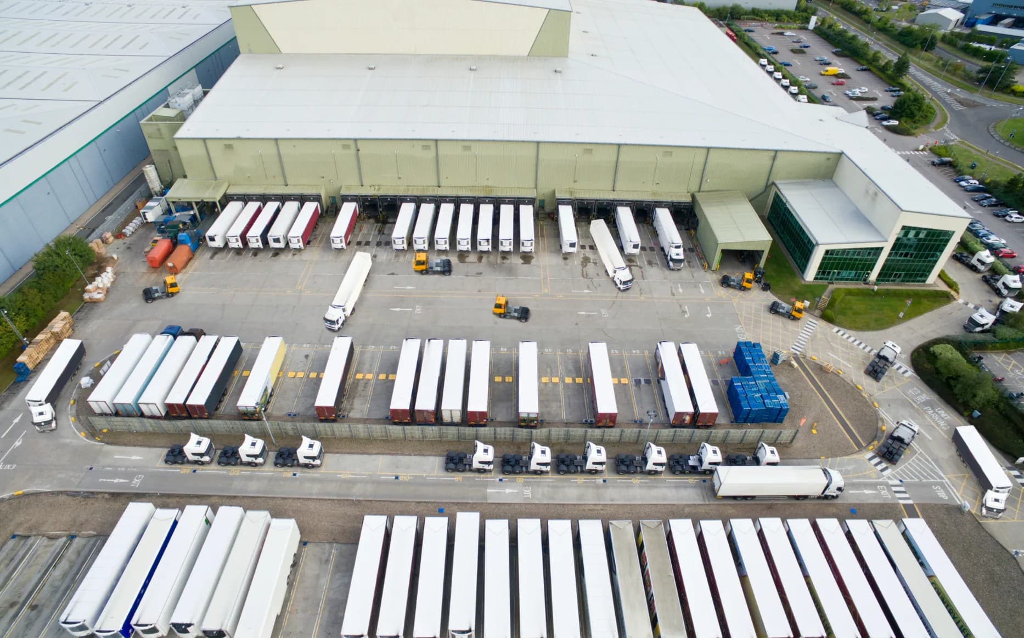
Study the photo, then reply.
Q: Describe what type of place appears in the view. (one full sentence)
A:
This image shows an industrial area.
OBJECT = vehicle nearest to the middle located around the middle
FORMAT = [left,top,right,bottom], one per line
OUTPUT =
[493,294,534,322]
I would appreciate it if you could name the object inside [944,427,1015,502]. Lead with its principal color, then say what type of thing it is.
white trailer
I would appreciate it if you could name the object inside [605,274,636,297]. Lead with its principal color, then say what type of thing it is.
white truck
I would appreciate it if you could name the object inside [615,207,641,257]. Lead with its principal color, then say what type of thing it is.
white trailer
